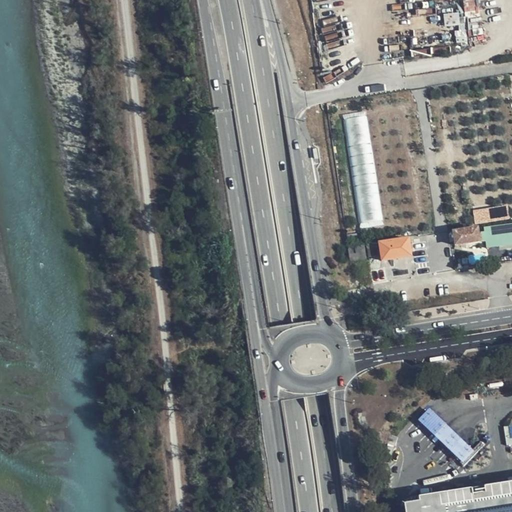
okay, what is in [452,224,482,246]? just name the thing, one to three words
house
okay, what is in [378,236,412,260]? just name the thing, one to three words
house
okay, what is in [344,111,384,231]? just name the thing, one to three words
greenhouse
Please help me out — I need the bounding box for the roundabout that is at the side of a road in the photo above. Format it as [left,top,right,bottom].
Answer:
[262,318,355,399]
